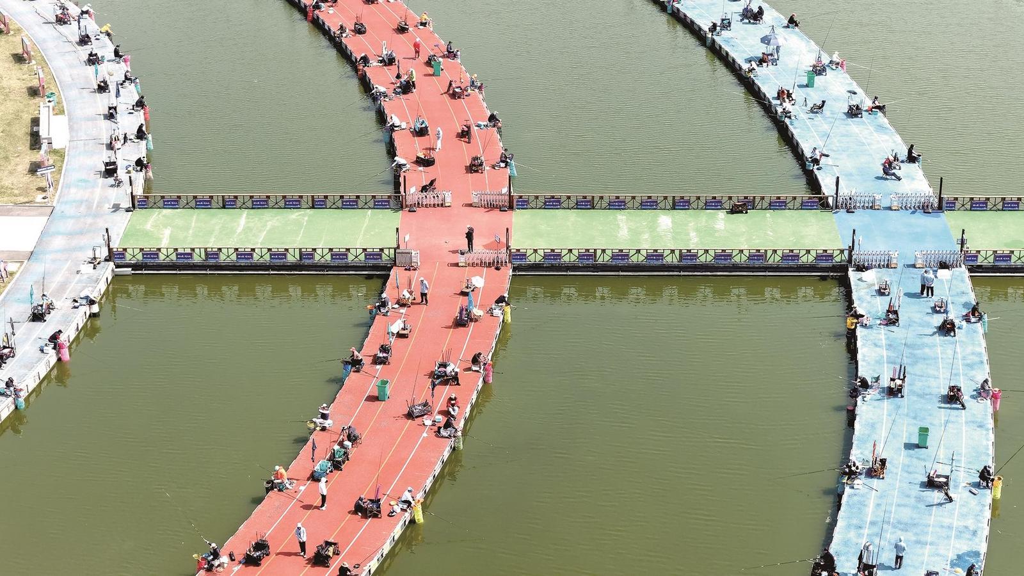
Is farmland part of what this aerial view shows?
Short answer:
No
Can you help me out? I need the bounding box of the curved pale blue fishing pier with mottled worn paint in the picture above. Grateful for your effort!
[656,0,994,576]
